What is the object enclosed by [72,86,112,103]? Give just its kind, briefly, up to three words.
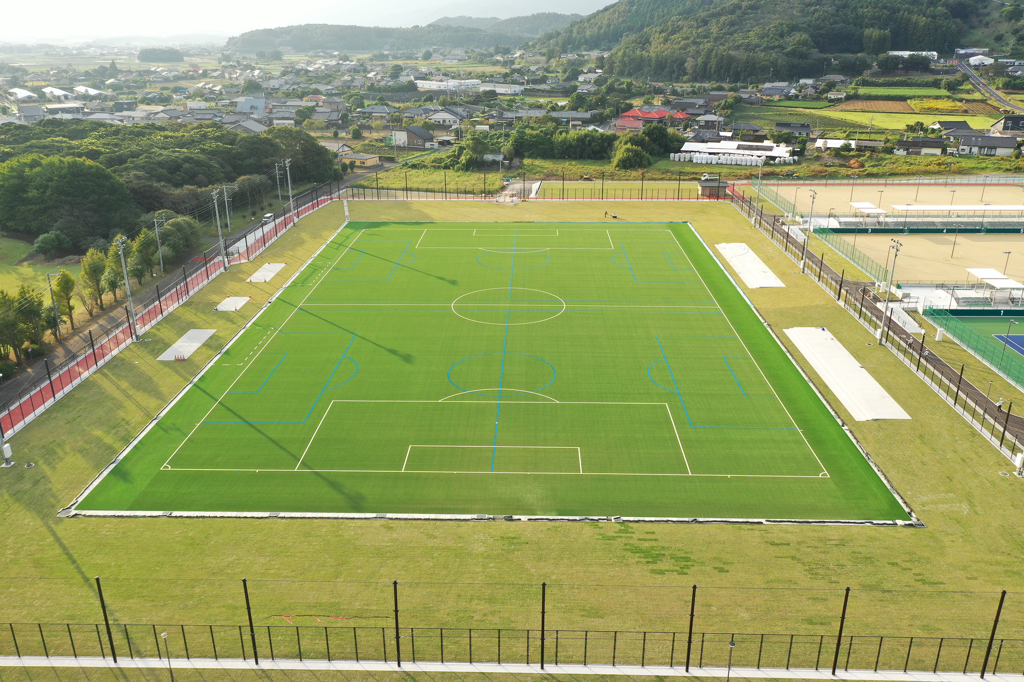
barn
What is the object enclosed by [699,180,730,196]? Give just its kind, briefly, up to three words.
shed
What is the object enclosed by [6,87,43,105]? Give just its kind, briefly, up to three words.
barn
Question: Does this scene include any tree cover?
Yes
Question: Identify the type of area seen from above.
sports ground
